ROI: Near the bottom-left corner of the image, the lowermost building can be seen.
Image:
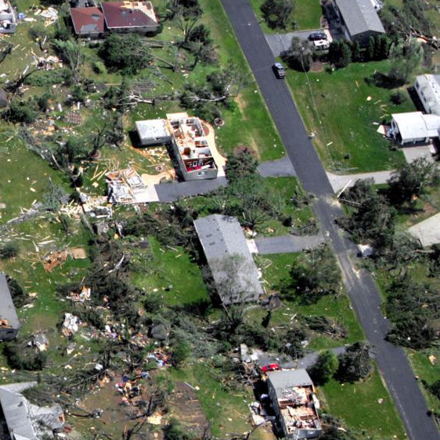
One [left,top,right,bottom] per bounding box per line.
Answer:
[0,382,81,440]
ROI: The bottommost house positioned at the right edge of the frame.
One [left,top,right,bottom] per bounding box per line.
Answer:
[390,112,440,147]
